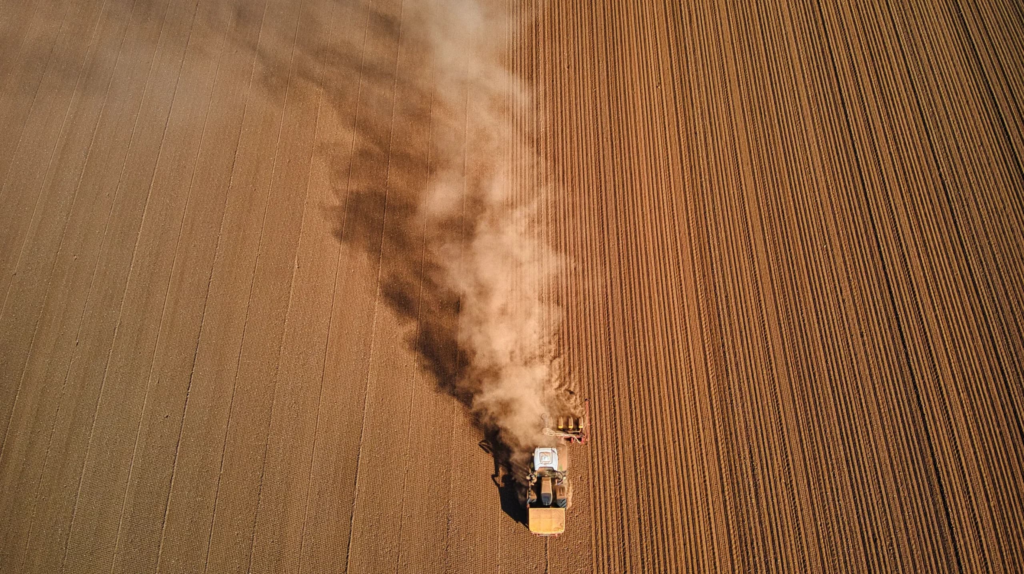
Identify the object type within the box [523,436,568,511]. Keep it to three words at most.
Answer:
work vehicle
